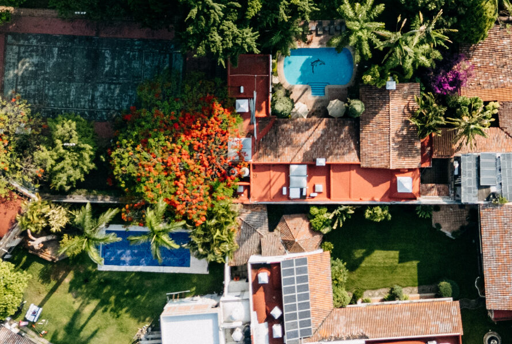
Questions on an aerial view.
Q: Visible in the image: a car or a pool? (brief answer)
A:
pool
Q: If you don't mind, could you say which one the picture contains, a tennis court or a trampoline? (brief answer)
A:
tennis court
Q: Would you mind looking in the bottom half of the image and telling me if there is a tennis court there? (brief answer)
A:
No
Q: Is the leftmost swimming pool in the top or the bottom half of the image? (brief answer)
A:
bottom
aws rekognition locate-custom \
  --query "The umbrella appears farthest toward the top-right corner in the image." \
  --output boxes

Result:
[327,97,346,118]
